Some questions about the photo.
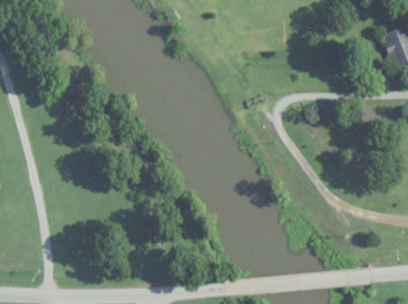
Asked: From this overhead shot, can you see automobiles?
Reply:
No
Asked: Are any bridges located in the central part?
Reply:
No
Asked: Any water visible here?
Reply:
Yes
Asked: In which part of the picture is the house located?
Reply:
top right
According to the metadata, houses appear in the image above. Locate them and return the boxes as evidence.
[384,27,408,65]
